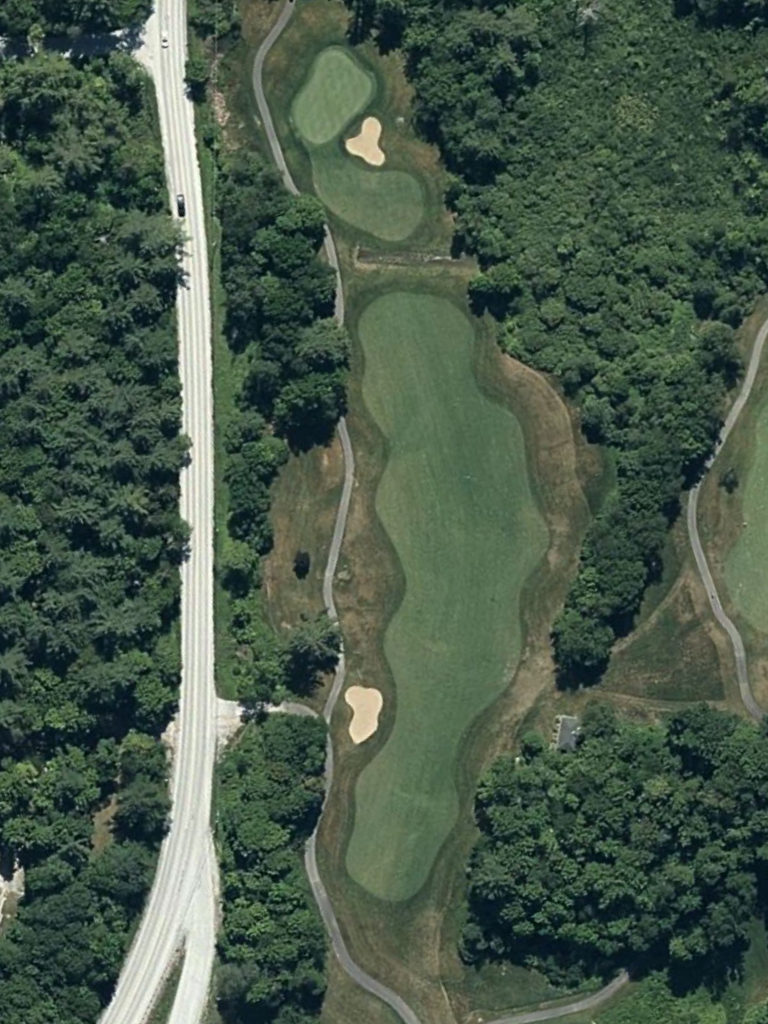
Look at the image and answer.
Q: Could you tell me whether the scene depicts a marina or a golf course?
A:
golf course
